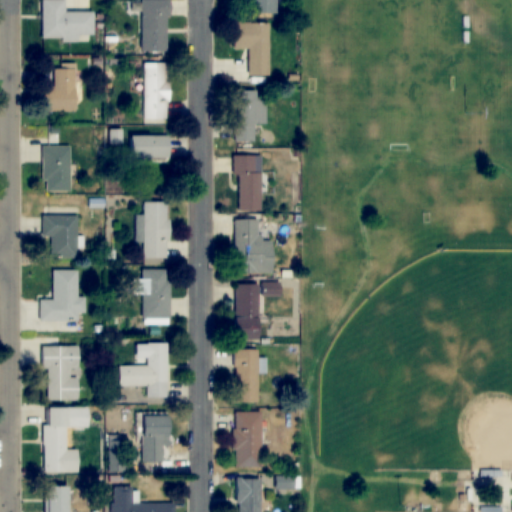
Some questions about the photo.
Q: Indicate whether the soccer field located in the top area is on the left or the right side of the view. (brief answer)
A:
right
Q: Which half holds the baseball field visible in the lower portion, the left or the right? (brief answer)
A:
right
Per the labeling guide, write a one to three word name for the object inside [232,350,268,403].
house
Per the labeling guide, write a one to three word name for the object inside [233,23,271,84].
house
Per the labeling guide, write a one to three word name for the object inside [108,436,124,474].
shed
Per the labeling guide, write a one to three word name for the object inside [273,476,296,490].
shed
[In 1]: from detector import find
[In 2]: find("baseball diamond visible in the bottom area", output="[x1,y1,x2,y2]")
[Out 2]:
[319,250,512,470]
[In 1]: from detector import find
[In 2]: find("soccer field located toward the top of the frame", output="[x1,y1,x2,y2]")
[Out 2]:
[308,0,512,240]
